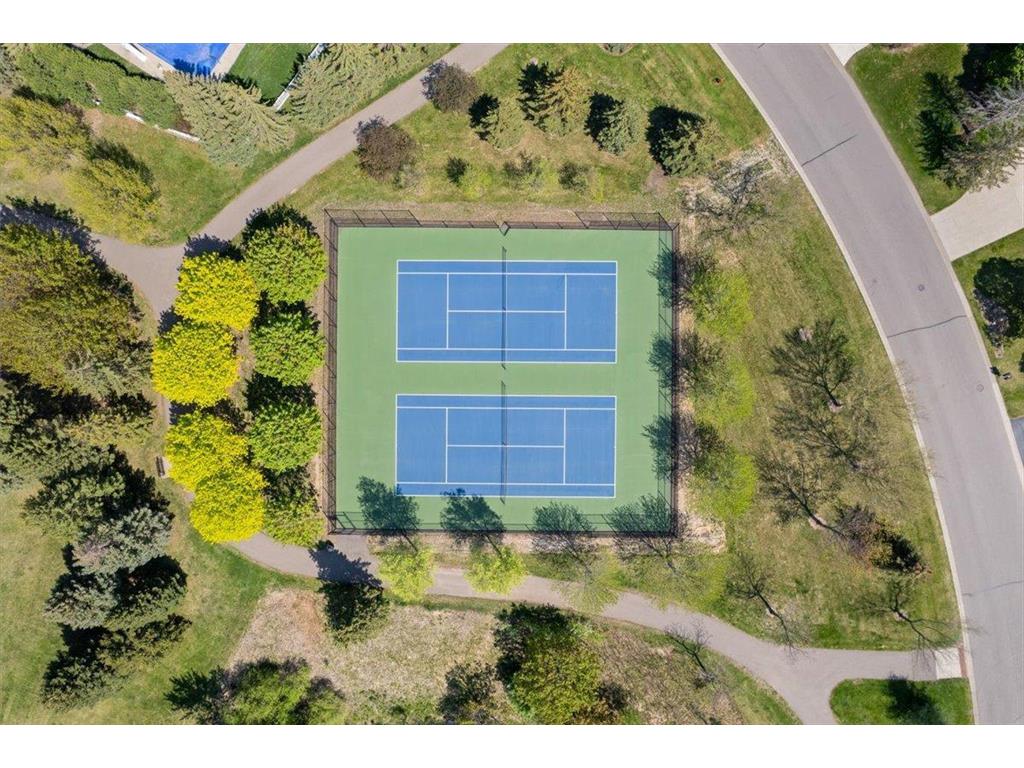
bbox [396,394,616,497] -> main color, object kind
blue tennis court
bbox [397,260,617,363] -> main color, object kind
blue tennis court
